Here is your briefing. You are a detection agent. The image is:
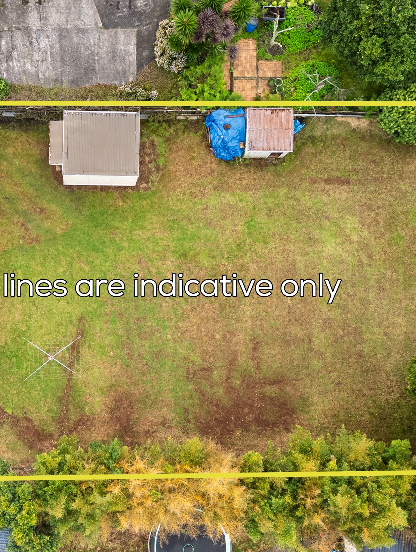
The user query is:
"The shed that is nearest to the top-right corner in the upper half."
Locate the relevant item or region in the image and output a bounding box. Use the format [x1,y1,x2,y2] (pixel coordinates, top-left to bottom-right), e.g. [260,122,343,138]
[245,107,295,164]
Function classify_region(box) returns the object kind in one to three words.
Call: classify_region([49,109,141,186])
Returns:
shed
